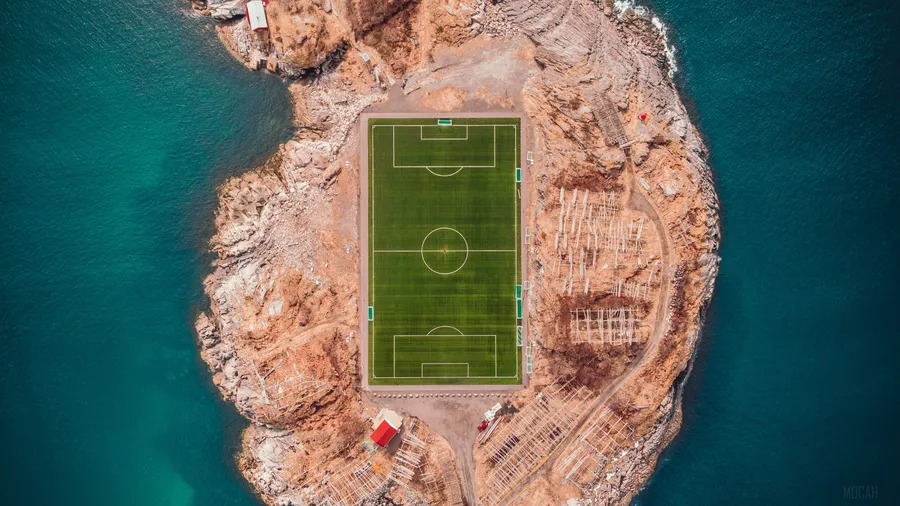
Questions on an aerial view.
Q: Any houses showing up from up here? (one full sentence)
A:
Yes, the picture does show a house.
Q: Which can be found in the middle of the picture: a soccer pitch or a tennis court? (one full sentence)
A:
Visible in the middle of the picture is a soccer pitch.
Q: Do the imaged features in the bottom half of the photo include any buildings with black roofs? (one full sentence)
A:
No, there's no building with a black roof to be seen in the bottom half of the photo.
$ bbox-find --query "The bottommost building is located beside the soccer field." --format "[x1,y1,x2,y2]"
[371,402,407,446]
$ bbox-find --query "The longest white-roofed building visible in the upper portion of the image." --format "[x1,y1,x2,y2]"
[249,3,270,35]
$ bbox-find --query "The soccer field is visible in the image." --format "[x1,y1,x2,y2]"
[367,119,522,385]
